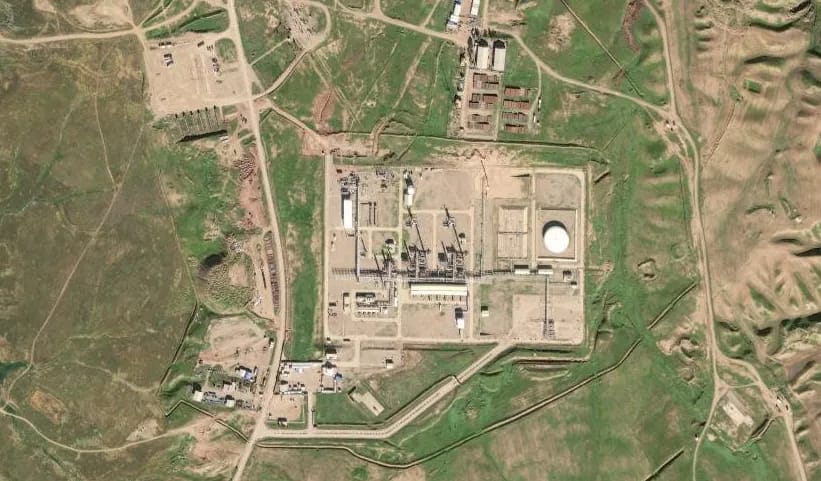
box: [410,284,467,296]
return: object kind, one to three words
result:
building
